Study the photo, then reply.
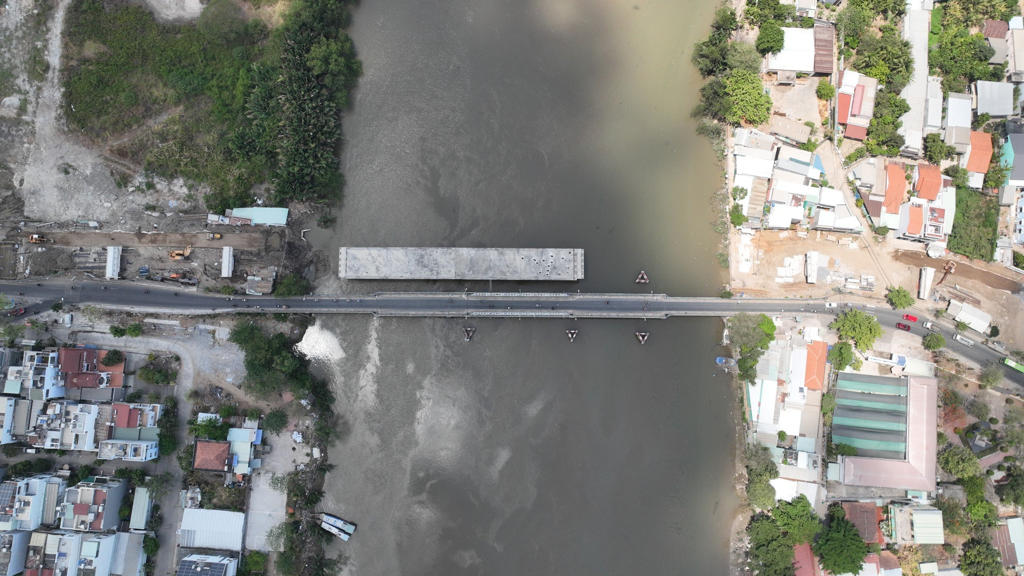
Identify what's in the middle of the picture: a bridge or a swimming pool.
bridge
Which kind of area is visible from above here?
residential area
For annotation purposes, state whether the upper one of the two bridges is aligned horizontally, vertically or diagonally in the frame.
horizontally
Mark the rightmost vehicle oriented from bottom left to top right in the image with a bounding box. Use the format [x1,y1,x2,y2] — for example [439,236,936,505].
[935,258,962,287]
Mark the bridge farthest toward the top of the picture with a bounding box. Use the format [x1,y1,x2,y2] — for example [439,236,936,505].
[337,247,584,281]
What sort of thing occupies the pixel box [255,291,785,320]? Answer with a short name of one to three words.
bridge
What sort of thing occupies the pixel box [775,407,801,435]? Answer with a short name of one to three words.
house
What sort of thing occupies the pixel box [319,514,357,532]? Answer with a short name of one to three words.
boat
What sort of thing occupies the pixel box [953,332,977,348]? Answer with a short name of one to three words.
vehicle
